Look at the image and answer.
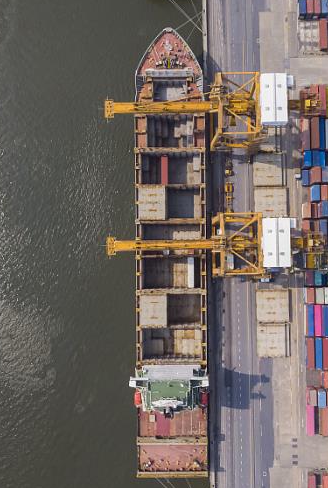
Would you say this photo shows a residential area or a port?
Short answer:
port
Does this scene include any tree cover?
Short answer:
No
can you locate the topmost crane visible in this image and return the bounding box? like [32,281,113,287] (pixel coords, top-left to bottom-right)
[102,71,321,158]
